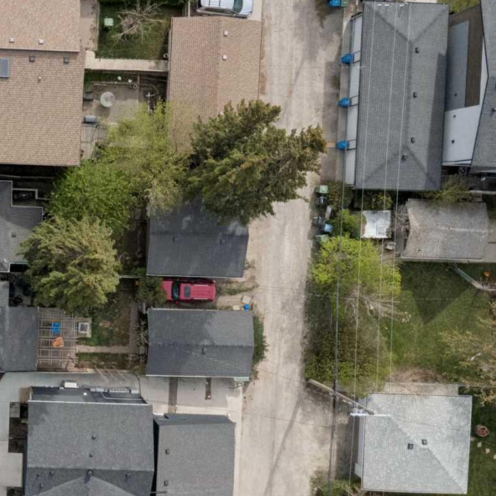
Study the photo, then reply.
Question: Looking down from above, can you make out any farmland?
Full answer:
No, the picture contains no farmland.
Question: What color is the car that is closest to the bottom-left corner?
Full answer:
The color of the car that is closest to the bottom-left corner is red.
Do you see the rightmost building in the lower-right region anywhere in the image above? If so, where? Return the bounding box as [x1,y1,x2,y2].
[341,391,473,495]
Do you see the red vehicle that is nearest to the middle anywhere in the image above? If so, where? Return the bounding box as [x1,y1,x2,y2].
[161,278,217,306]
